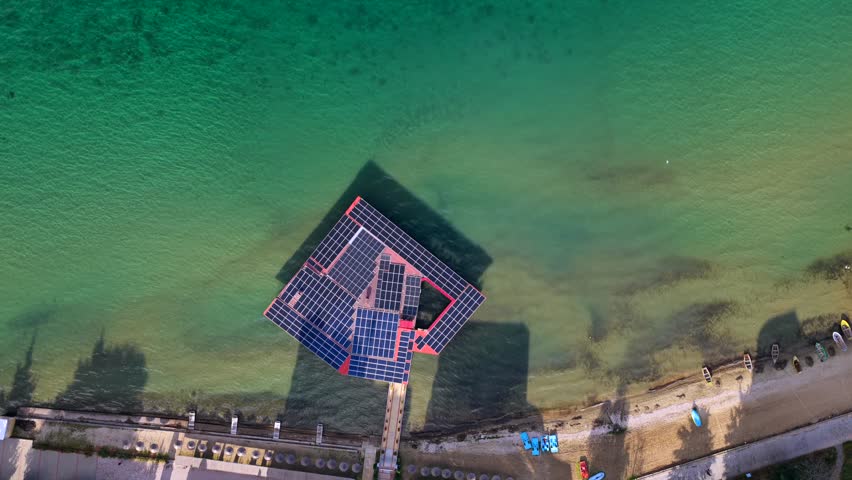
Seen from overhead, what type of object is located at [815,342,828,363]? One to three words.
boat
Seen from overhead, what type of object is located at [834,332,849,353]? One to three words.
boat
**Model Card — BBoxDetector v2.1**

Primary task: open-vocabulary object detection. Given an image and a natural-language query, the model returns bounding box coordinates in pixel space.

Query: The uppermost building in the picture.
[264,196,486,384]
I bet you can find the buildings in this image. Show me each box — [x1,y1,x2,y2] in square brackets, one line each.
[0,416,18,440]
[264,196,486,384]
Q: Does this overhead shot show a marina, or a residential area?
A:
marina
